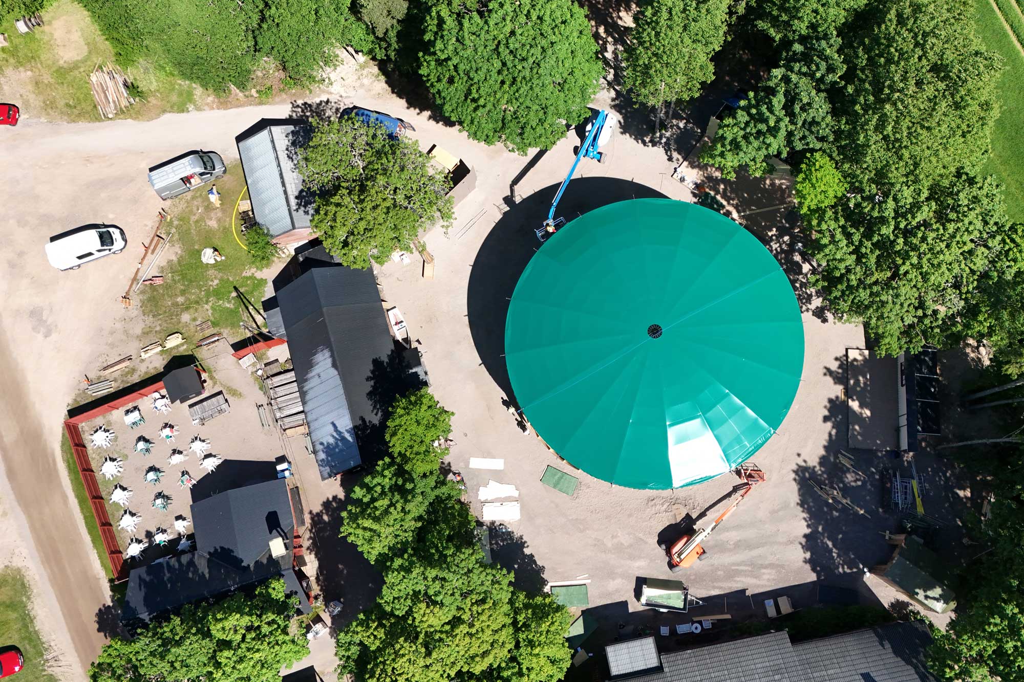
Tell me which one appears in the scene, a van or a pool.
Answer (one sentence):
I can see a van in this picture.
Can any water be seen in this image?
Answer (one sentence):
No, there is no water in the image.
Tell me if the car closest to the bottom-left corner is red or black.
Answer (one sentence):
The color of the car closest to the bottom-left corner is red.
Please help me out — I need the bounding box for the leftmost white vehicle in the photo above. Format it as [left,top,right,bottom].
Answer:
[43,227,122,270]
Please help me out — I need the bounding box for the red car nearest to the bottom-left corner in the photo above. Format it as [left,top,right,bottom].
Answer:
[0,651,22,679]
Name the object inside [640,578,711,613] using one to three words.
trailer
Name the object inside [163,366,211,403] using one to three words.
shed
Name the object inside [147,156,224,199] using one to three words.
van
